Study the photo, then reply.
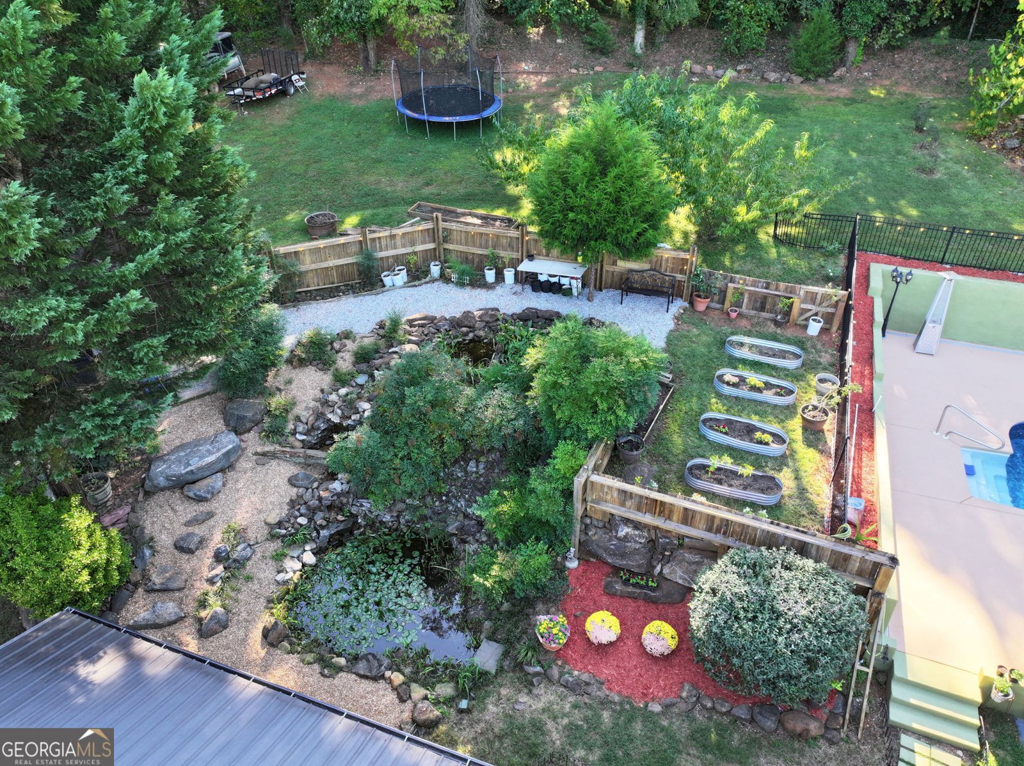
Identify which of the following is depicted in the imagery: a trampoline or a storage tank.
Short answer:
trampoline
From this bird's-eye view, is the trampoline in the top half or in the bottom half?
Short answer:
top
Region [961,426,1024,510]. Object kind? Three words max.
swimming pool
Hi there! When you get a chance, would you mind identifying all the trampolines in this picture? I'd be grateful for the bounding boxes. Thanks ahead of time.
[391,42,504,142]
